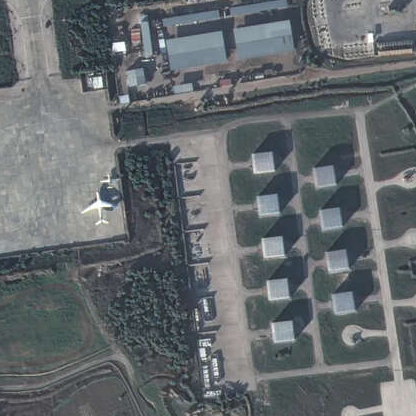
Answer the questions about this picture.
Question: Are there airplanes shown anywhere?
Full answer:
Yes, the image includes an airplane.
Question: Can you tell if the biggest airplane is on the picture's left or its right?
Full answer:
It is on the left.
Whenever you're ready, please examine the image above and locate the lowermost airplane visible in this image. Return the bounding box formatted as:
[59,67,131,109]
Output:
[81,191,119,223]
